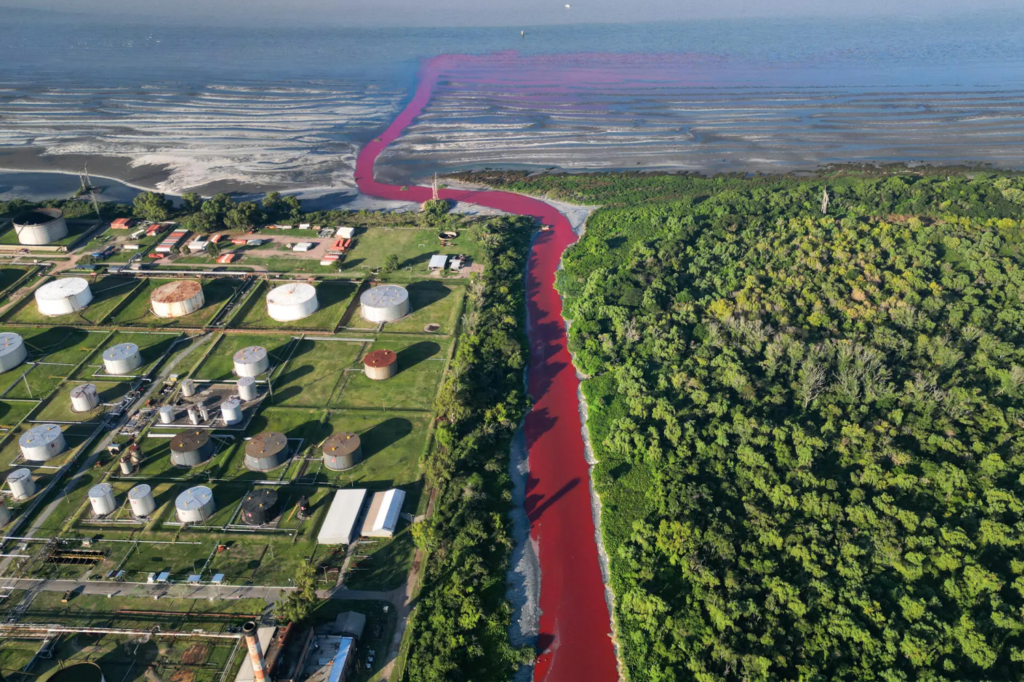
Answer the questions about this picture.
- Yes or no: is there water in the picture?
Yes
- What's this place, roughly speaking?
industrial area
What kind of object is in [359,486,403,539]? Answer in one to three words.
shed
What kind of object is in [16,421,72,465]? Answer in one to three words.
storage tank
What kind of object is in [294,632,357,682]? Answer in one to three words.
building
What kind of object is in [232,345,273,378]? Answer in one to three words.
storage tank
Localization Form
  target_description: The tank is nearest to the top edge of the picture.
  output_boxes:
[9,206,74,245]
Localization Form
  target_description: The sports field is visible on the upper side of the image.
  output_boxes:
[340,227,482,272]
